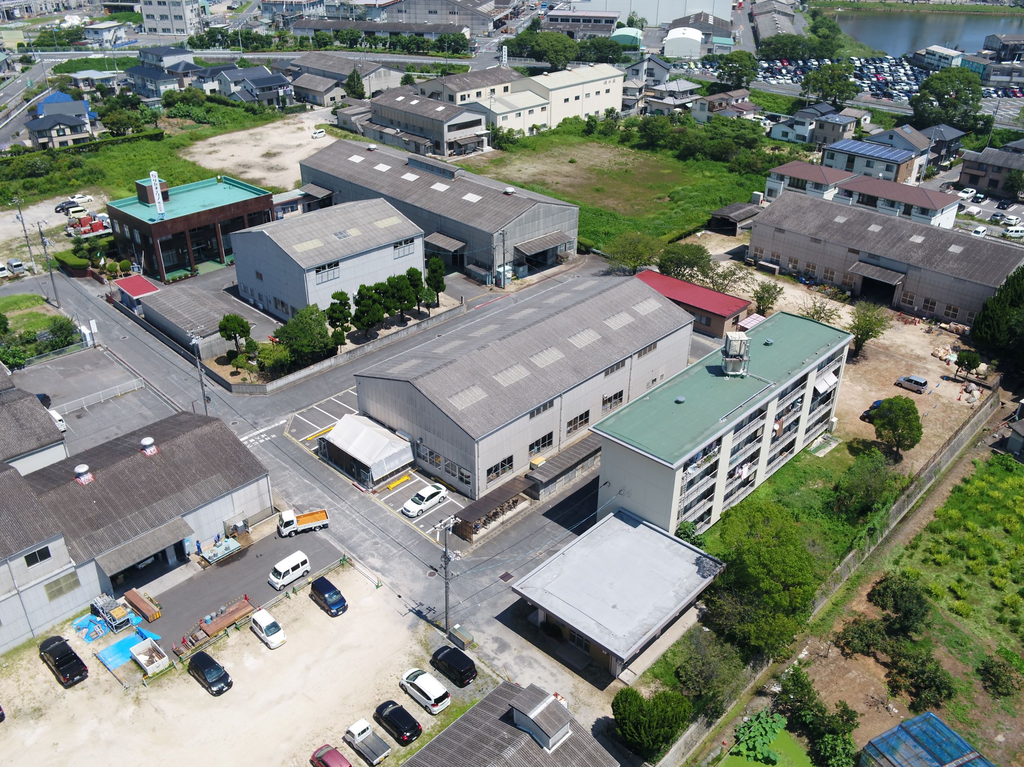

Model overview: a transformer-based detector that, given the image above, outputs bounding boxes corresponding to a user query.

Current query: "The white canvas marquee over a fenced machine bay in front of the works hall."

[321,415,414,486]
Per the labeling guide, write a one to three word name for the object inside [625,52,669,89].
house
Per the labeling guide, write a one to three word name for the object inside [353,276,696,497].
building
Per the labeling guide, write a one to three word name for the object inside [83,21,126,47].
building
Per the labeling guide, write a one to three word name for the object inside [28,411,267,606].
shed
